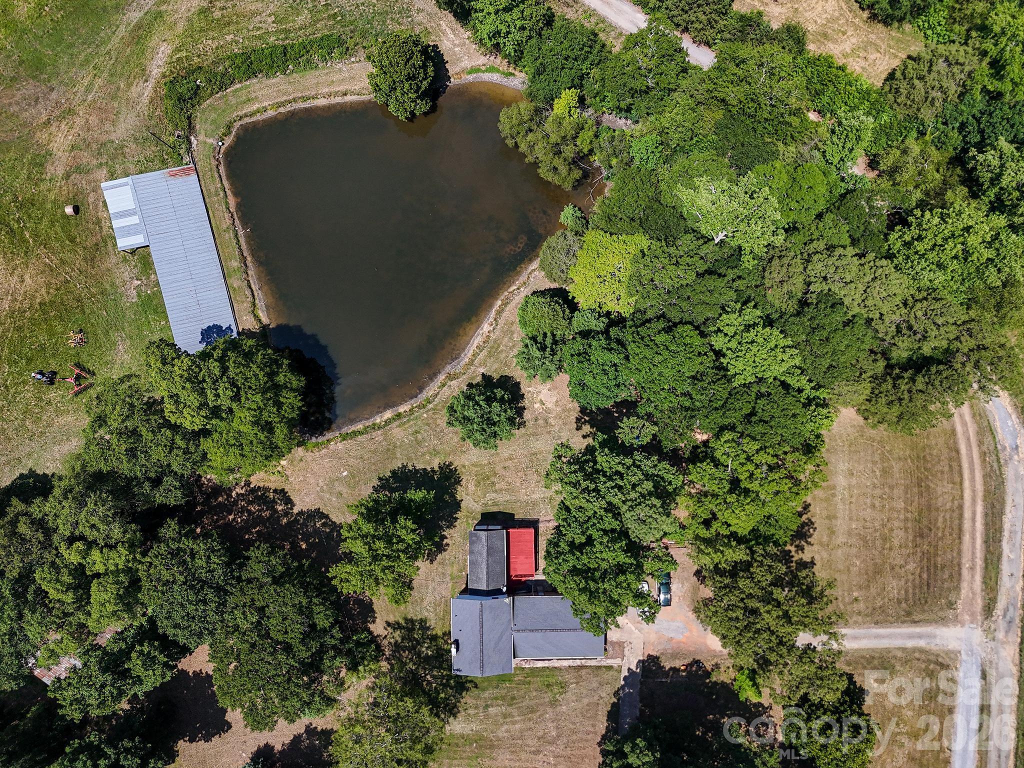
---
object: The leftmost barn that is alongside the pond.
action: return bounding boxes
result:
[101,164,244,359]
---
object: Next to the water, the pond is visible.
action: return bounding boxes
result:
[225,85,606,440]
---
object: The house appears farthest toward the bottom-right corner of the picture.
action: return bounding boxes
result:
[450,528,605,677]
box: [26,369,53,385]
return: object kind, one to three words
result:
work vehicle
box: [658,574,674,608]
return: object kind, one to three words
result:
car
